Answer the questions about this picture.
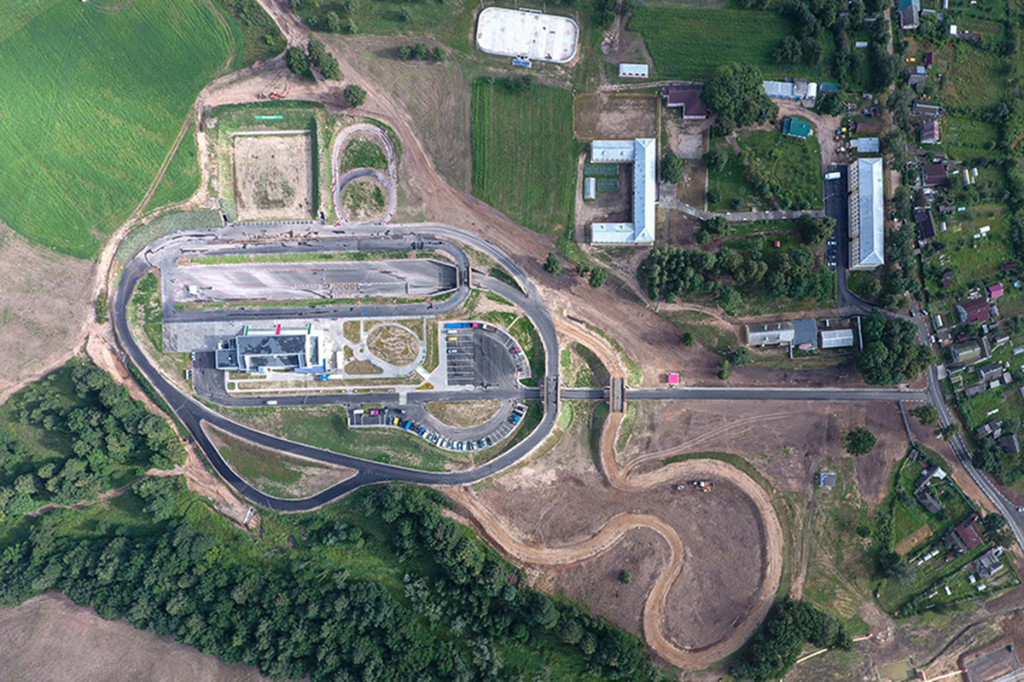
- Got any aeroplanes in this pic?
No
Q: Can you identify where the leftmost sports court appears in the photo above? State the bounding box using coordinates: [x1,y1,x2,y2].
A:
[477,5,578,64]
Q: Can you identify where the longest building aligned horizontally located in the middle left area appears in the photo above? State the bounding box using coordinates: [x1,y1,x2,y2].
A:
[215,325,328,373]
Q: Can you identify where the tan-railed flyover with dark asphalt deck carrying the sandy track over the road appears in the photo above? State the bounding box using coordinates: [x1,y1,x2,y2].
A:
[607,377,627,414]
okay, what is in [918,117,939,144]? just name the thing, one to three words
house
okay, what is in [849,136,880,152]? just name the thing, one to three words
building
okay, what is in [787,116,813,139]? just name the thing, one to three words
house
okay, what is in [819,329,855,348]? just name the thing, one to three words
barn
